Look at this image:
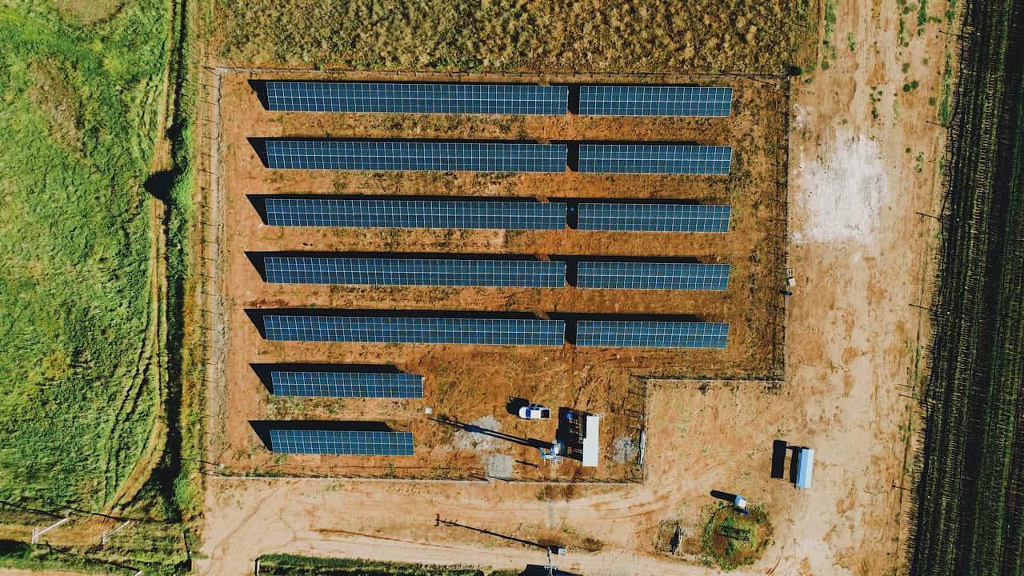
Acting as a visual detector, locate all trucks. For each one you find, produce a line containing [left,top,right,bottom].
[518,400,551,425]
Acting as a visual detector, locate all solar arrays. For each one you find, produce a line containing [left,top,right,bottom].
[264,257,567,287]
[270,430,413,455]
[272,372,424,398]
[578,145,732,174]
[577,321,729,348]
[576,262,730,290]
[577,203,731,232]
[264,316,565,345]
[266,199,568,229]
[579,86,732,116]
[266,141,568,172]
[267,83,569,114]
